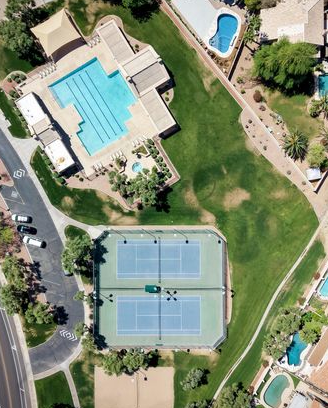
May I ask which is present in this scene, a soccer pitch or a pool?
pool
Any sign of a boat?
No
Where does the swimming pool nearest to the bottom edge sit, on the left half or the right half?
right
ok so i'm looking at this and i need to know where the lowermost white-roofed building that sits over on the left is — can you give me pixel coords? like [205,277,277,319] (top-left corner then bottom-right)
[44,141,76,173]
